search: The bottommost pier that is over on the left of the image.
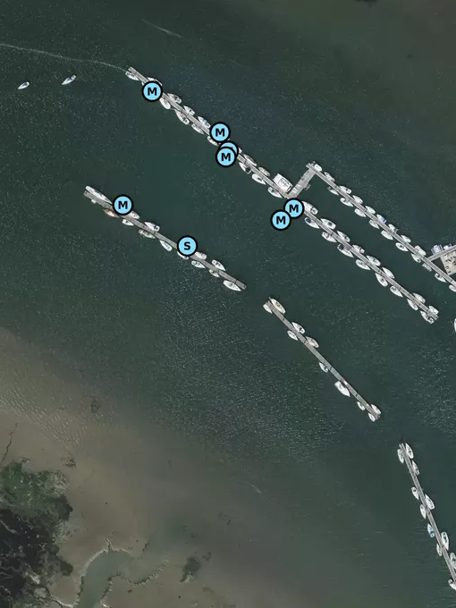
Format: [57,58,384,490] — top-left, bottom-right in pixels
[84,191,246,289]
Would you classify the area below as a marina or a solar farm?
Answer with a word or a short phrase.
marina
